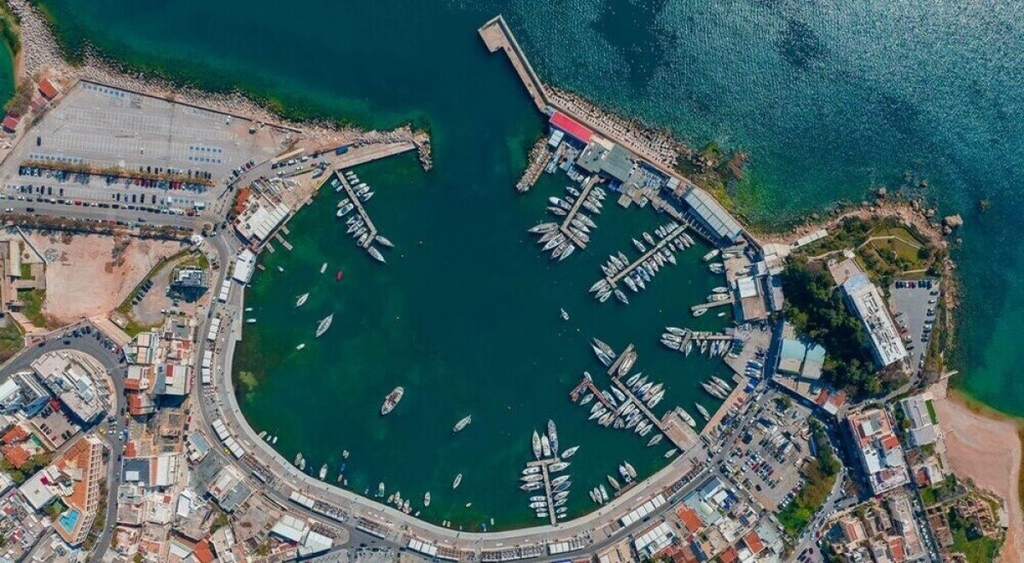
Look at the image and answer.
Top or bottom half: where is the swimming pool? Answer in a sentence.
The bottom half of the photo is where the swimming pool is.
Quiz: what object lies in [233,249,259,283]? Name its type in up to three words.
building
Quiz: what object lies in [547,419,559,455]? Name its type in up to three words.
boat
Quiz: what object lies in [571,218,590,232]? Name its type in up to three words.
boat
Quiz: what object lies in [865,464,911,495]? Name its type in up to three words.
house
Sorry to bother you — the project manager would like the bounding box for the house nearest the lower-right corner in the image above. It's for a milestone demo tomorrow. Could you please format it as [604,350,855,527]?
[926,505,954,548]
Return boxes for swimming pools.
[59,509,80,533]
